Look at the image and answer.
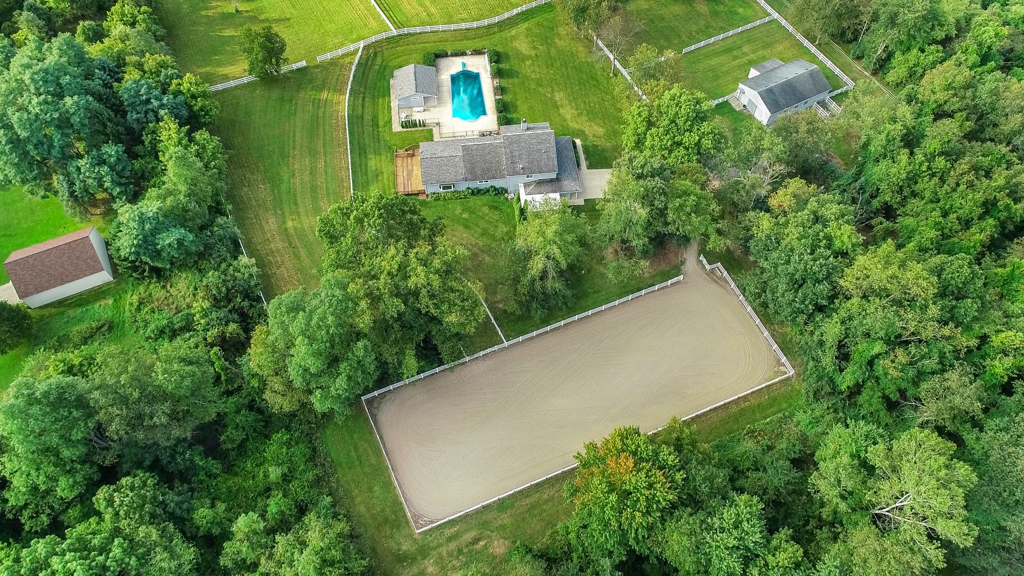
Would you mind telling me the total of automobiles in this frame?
0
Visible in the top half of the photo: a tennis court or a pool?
pool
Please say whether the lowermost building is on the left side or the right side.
left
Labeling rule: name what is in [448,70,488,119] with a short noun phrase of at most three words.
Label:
swimming pool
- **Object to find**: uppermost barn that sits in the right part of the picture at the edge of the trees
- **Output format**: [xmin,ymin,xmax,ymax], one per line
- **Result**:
[734,56,831,124]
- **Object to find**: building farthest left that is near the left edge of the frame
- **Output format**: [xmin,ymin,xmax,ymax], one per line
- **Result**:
[4,227,110,307]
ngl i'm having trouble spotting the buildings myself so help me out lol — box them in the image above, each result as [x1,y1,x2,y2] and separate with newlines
[420,119,582,217]
[734,56,831,124]
[396,63,439,106]
[4,227,110,307]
